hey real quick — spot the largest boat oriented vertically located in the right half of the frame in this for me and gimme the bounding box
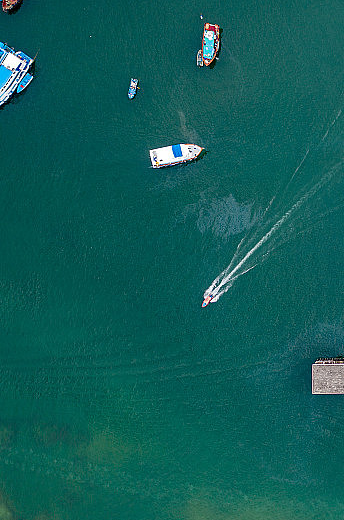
[201,23,221,67]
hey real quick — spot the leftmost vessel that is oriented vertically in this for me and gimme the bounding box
[0,39,32,112]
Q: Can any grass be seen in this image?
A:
No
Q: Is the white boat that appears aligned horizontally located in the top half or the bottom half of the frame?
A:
top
